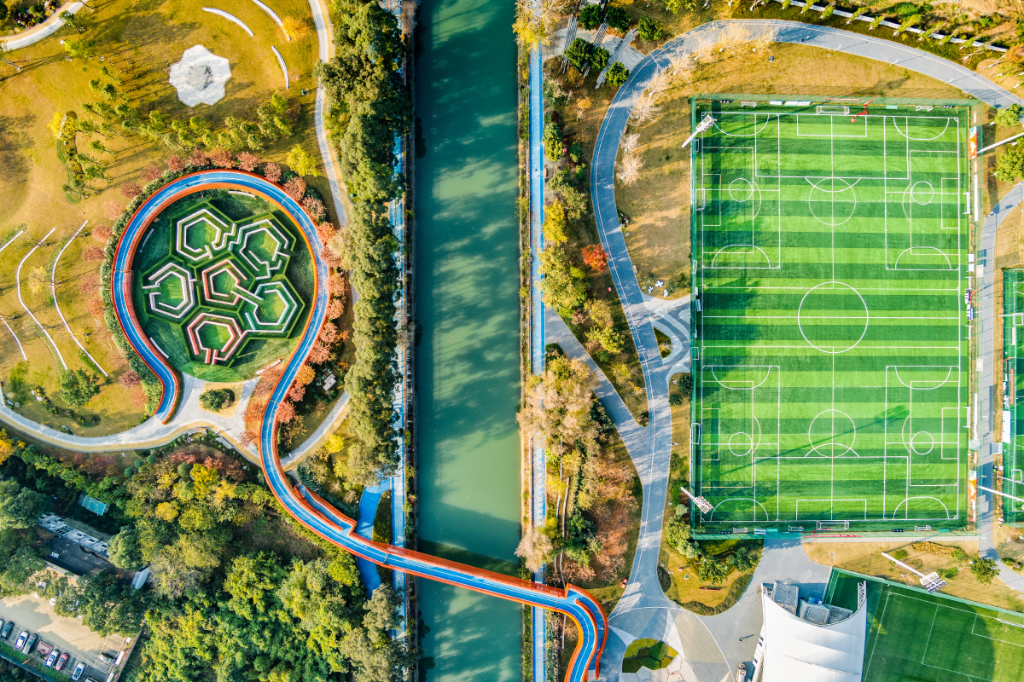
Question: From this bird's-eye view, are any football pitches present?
Yes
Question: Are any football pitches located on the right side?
Yes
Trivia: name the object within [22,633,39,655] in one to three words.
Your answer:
car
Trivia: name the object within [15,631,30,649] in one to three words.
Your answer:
car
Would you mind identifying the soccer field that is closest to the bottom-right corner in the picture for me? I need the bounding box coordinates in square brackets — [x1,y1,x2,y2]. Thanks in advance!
[817,570,1024,682]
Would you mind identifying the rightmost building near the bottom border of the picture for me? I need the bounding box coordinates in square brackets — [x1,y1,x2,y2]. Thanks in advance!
[745,577,874,682]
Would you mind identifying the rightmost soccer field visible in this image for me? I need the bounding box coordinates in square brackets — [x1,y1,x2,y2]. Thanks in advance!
[1004,272,1024,523]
